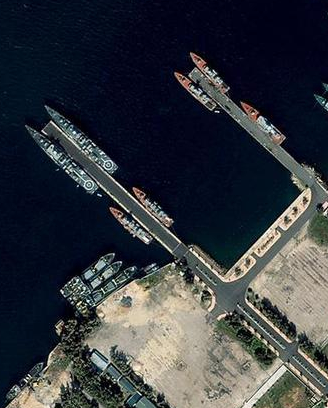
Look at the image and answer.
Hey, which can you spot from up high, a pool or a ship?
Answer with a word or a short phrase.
ship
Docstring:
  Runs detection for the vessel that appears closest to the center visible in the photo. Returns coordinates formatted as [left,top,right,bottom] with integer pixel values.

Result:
[134,187,176,228]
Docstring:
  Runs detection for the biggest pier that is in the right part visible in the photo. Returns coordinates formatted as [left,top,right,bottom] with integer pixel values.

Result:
[188,67,304,177]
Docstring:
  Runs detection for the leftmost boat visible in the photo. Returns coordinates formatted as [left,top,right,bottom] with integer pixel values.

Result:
[4,384,20,400]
